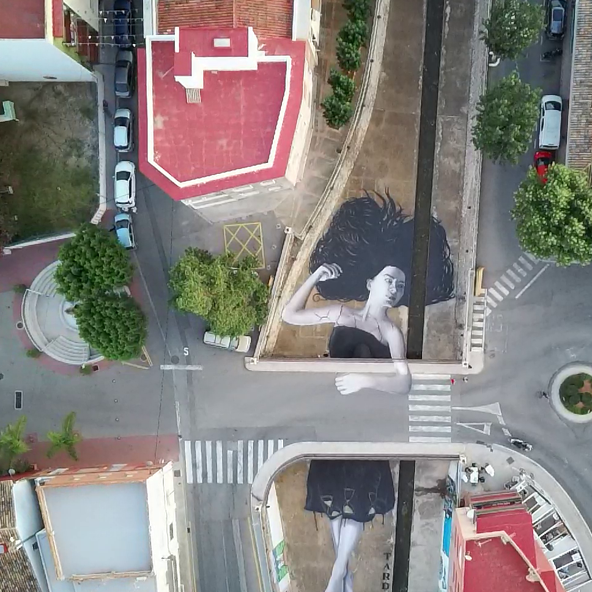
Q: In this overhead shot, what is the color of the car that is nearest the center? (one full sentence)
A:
In this view, the car that is nearest the center is white.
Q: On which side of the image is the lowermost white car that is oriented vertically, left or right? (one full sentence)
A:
You can find the lowermost white car that is oriented vertically on the left side of the picture.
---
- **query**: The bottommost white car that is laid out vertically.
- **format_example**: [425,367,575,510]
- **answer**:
[112,162,137,211]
